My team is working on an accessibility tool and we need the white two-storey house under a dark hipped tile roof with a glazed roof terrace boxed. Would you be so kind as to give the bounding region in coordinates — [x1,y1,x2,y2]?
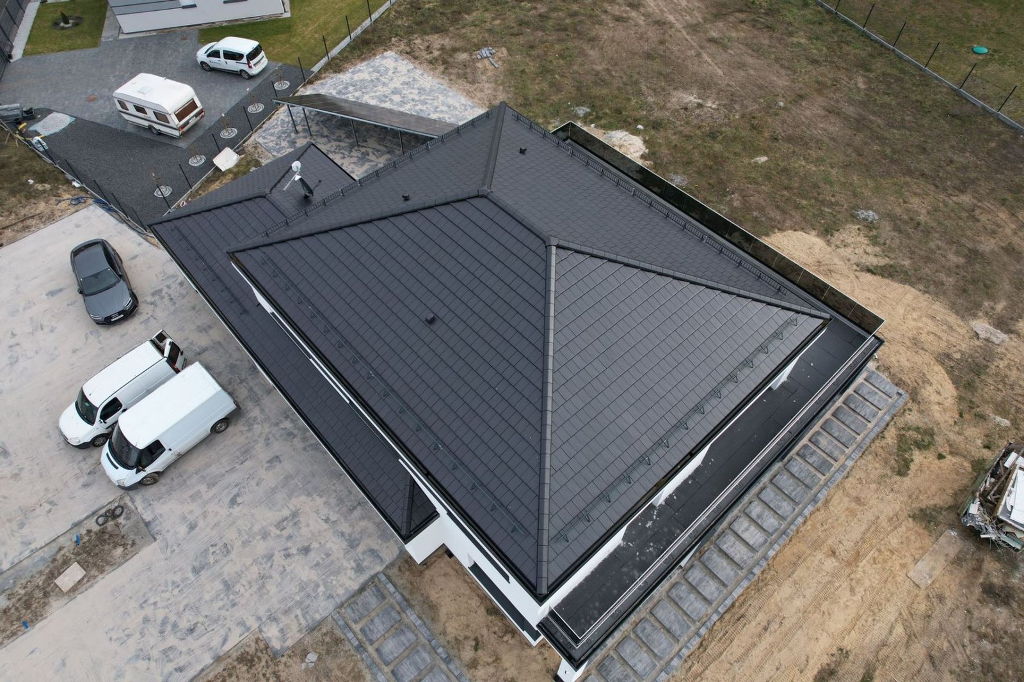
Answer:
[149,99,884,673]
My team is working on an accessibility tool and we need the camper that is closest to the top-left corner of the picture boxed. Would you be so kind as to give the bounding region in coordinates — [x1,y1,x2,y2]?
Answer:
[106,69,205,137]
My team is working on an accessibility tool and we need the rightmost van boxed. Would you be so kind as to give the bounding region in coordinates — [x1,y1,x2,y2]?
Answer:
[196,34,270,81]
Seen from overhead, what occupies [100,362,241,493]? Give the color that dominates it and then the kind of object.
white van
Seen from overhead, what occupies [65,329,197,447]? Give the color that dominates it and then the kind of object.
white van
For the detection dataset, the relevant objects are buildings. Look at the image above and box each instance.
[149,99,884,673]
[106,0,289,32]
